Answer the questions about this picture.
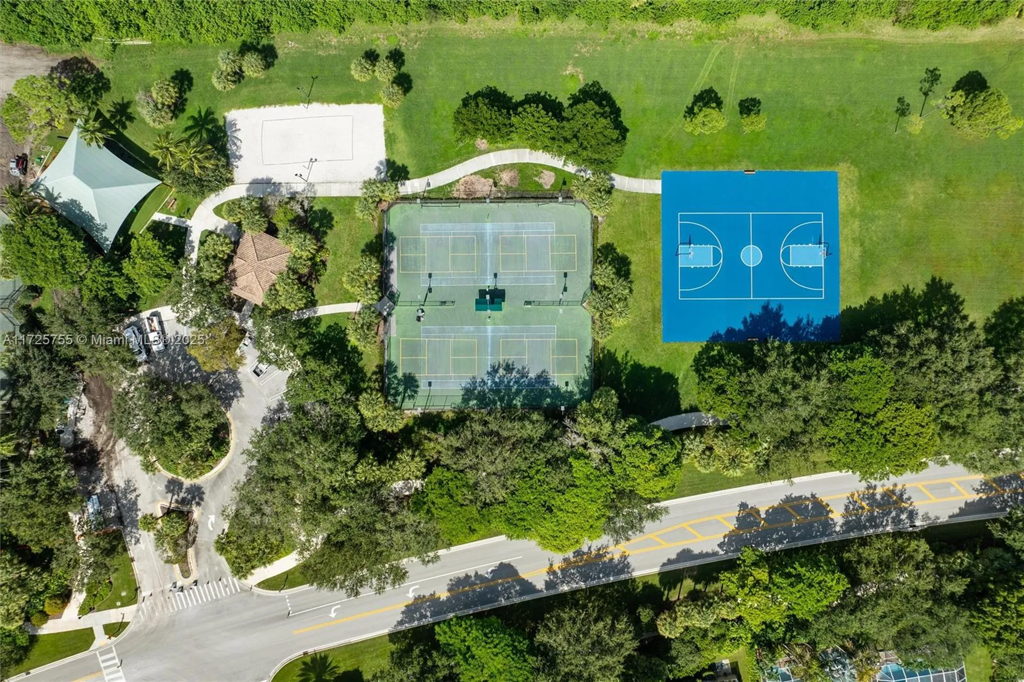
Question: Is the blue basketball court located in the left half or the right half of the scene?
right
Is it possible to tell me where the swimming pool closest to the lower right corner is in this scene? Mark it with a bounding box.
[876,652,965,682]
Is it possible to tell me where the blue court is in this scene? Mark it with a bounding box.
[661,170,840,342]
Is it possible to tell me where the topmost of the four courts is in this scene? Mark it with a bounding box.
[226,103,386,183]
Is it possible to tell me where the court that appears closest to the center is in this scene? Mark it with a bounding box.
[387,202,593,409]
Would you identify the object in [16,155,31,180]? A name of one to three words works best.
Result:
work vehicle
